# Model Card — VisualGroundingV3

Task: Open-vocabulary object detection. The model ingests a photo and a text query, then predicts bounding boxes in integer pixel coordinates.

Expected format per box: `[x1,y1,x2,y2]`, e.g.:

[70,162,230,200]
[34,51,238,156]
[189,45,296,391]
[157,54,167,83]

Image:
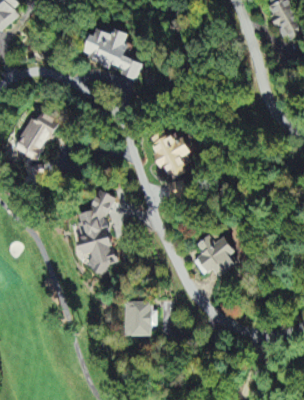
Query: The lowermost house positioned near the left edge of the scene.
[14,112,59,162]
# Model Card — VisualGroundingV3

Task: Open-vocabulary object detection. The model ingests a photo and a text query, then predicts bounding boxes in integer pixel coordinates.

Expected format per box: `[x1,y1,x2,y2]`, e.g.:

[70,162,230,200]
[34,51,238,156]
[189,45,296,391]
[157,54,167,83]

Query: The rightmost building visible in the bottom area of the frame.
[190,234,240,280]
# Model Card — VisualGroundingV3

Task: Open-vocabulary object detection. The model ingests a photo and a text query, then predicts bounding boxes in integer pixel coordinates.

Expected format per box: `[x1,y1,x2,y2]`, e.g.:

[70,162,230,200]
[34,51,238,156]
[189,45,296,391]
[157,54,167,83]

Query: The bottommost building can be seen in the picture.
[125,302,159,338]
